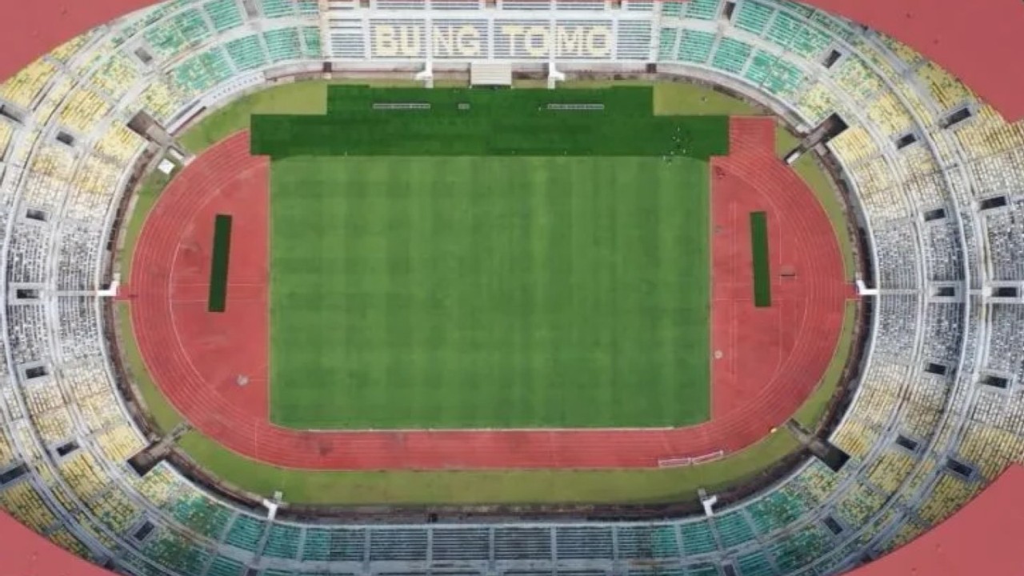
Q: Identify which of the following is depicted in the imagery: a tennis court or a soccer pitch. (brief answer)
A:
soccer pitch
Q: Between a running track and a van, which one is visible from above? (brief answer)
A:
running track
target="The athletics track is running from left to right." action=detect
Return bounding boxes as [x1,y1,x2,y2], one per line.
[116,118,859,469]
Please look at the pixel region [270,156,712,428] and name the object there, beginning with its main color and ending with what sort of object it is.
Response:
green soccer field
